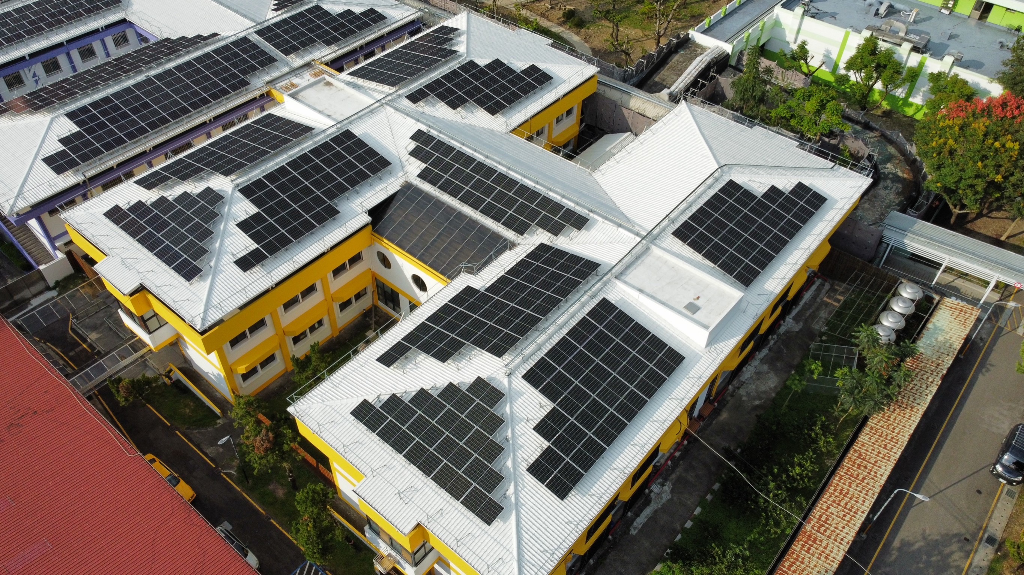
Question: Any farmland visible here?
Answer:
No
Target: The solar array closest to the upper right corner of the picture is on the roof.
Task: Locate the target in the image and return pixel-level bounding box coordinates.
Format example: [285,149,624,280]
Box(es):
[672,179,820,289]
